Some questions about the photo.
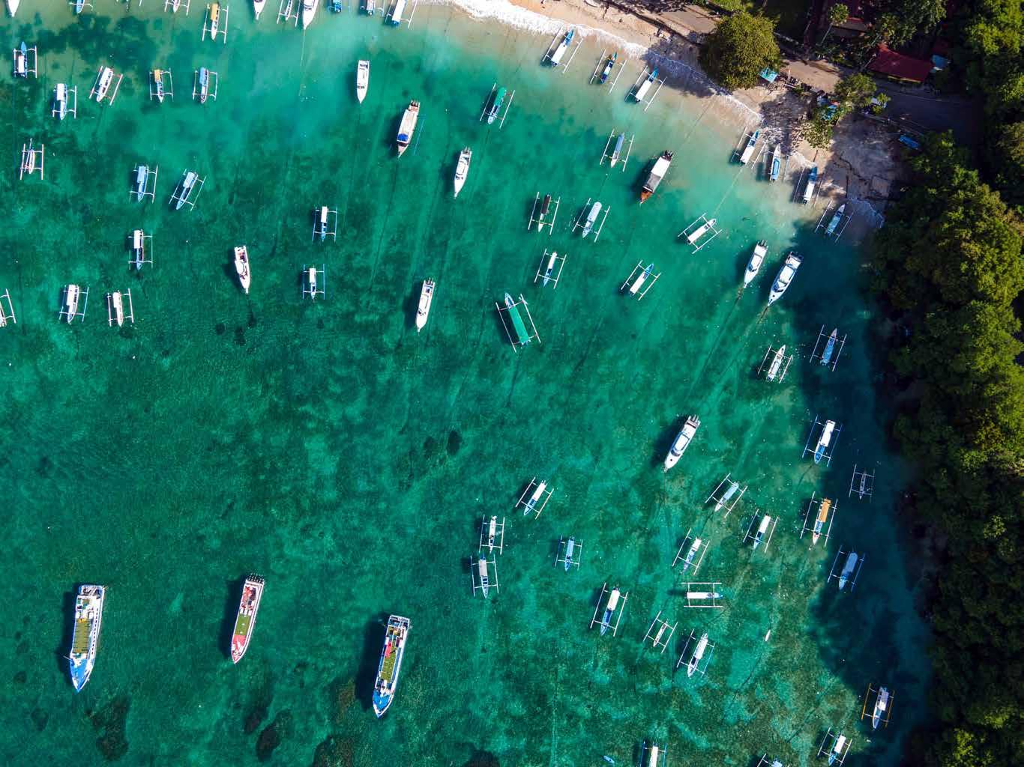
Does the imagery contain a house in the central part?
No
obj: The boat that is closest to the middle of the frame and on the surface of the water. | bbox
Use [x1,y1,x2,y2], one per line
[497,293,540,352]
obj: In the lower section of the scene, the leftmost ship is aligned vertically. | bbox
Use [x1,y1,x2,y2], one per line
[67,584,109,691]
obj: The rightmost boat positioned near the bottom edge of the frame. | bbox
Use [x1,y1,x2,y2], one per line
[862,683,895,730]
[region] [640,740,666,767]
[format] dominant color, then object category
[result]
white boat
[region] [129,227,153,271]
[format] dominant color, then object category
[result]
white boat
